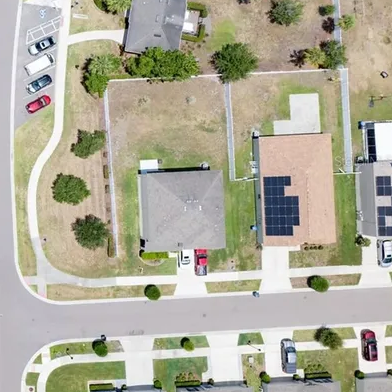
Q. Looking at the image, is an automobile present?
Yes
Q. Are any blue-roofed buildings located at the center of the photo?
No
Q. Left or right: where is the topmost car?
left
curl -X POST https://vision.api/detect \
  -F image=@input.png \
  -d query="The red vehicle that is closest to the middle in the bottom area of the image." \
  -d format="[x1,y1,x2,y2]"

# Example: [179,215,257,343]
[193,249,209,275]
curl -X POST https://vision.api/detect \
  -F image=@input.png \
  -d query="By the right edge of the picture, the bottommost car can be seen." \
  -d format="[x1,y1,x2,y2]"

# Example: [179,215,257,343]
[361,329,378,362]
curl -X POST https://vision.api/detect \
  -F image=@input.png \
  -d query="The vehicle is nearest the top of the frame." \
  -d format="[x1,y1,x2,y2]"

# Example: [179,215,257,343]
[27,36,57,56]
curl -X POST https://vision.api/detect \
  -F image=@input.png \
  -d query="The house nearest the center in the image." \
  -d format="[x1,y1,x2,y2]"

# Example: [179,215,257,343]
[143,170,227,251]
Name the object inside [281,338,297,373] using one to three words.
vehicle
